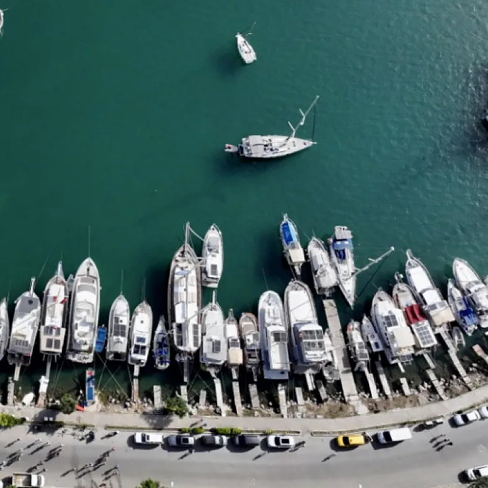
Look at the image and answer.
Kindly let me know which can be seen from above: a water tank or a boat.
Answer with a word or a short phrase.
boat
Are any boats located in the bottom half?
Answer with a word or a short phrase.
Yes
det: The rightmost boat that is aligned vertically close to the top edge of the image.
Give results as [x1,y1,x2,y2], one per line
[238,23,255,67]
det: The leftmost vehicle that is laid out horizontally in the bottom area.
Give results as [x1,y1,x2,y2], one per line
[10,471,46,487]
